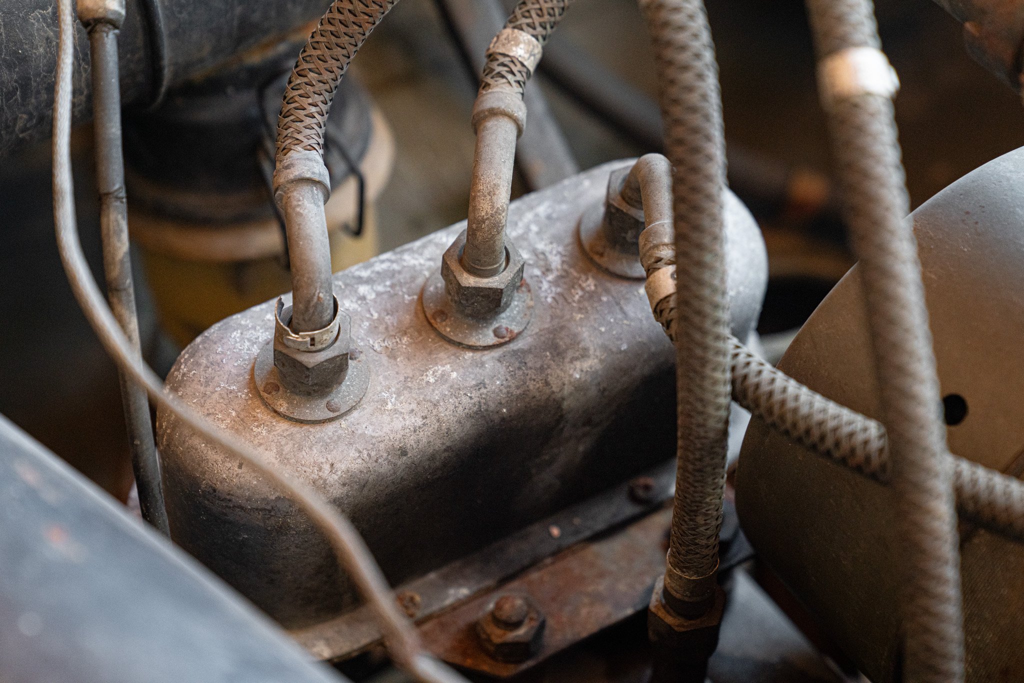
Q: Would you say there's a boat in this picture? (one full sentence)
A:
No, the photo shows no boat.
